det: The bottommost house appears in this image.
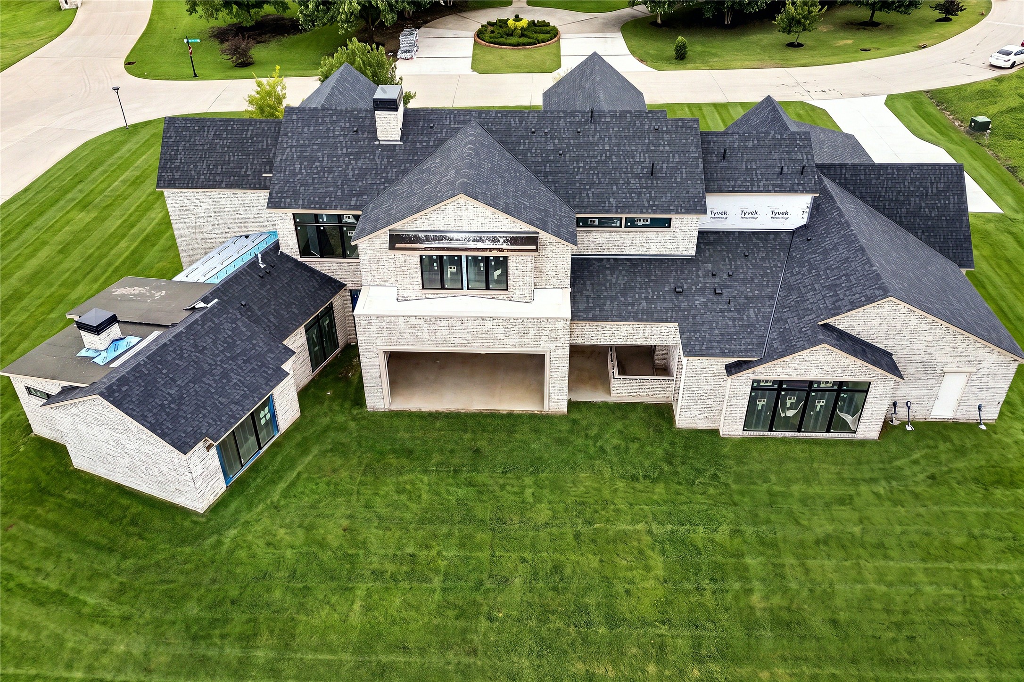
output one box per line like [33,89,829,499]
[0,51,1024,489]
